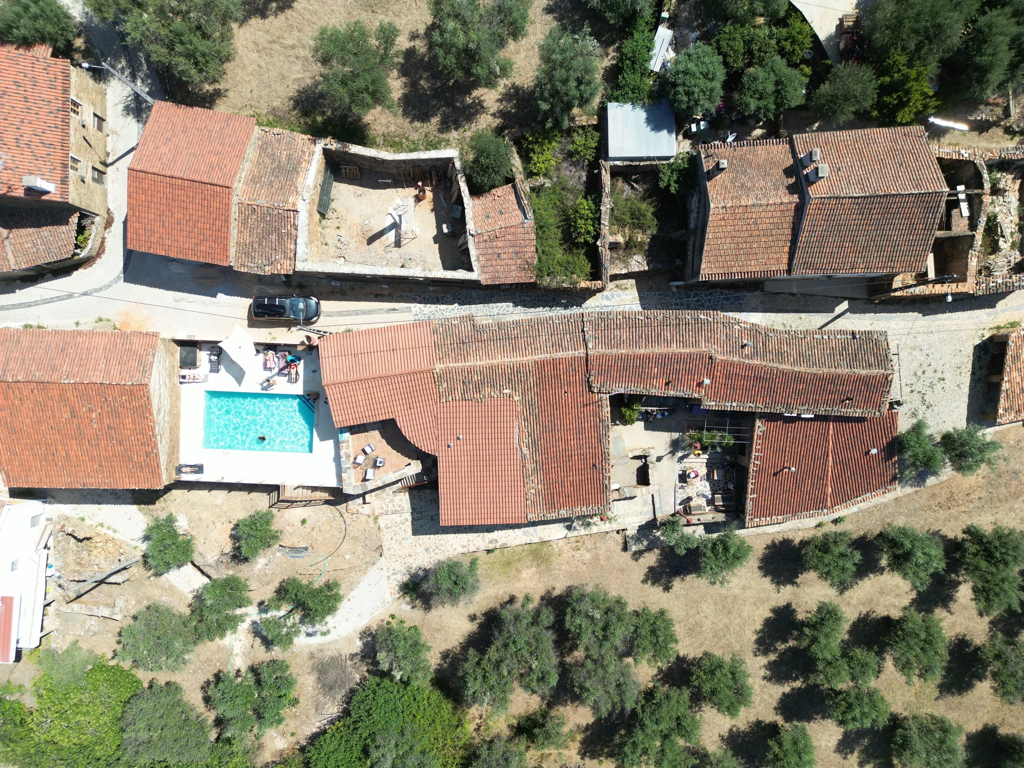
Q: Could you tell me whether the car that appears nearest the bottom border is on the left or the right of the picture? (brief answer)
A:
left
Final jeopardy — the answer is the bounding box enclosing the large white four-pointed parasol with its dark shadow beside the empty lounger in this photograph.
[217,324,260,374]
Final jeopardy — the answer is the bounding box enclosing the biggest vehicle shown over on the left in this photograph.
[247,291,323,325]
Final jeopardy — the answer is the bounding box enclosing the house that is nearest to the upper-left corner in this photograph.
[0,40,108,212]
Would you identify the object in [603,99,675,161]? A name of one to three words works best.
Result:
shed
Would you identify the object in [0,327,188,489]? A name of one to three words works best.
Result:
building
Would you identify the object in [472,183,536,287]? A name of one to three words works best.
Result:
house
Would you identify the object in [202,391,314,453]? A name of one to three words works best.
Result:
swimming pool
